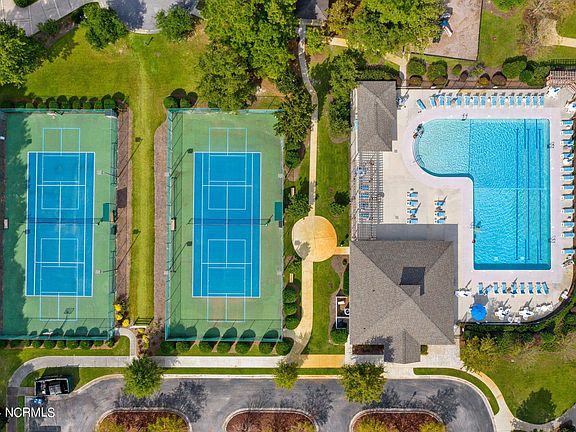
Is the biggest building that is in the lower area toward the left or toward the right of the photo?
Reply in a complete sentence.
You can find the biggest building that is in the lower area on the right side of the picture.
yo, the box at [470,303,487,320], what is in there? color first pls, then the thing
blue umbrella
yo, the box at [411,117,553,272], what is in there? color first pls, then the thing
blue swimming pool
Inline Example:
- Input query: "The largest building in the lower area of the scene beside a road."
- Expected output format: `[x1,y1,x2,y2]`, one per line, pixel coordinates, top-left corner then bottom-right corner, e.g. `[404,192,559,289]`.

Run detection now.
[350,241,453,364]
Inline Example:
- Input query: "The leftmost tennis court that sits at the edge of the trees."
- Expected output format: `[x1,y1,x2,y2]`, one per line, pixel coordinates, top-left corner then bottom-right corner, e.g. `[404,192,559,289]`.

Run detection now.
[1,111,119,338]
